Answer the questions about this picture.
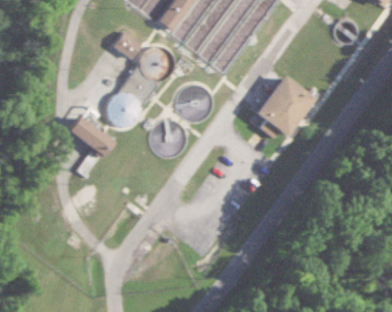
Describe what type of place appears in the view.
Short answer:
industrial area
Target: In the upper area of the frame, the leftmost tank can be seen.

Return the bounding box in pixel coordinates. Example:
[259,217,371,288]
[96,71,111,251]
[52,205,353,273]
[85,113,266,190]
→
[106,92,142,128]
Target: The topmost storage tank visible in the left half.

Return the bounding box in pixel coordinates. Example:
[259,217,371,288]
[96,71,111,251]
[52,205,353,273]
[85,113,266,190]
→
[138,46,172,82]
